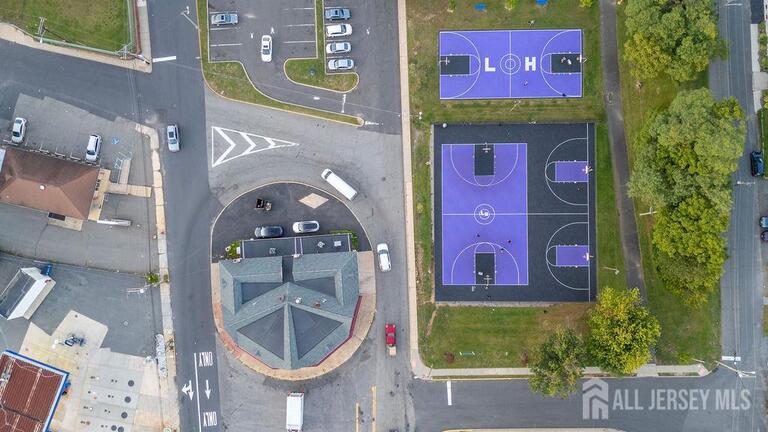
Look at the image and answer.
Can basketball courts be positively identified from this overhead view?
Yes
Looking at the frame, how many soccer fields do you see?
none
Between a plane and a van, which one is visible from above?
van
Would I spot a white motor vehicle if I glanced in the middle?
Yes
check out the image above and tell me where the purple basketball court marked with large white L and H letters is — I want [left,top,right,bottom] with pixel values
[439,28,584,100]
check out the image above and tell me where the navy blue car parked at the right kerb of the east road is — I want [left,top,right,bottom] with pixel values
[748,149,764,176]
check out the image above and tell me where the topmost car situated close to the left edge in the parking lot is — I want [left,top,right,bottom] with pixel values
[12,117,29,144]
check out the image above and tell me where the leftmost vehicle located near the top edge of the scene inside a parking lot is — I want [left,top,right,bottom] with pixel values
[212,12,239,26]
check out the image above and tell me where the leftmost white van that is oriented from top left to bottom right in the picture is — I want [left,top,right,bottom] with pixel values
[322,169,358,201]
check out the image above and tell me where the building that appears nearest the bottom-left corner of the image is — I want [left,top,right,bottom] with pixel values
[0,267,56,320]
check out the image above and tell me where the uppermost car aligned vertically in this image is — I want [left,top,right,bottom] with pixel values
[260,35,272,62]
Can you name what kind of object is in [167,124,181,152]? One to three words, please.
vehicle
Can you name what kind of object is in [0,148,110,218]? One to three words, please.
building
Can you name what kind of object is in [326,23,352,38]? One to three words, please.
car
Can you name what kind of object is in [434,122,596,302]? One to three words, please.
basketball court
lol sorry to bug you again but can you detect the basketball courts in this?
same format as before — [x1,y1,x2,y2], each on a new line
[439,28,584,100]
[434,122,596,302]
[545,123,589,214]
[545,214,590,301]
